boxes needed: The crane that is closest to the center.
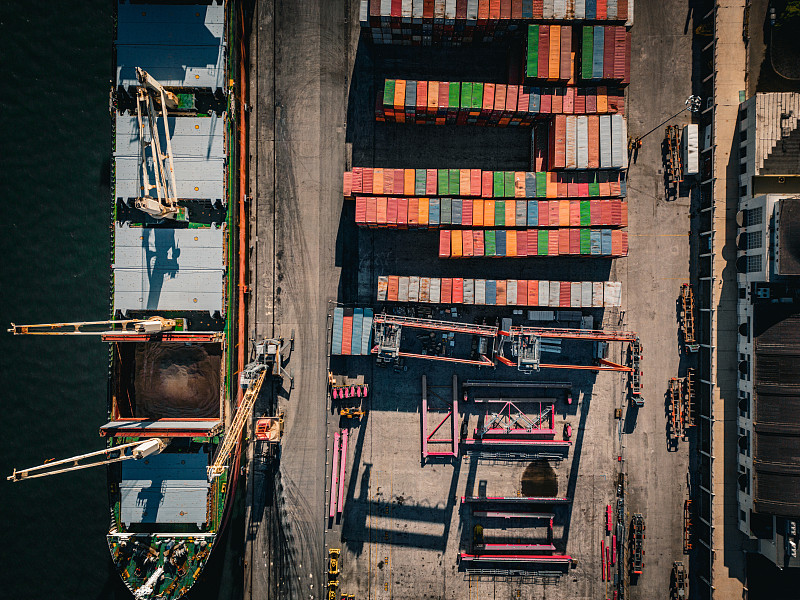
[370,309,501,367]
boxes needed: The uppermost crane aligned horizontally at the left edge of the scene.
[6,314,198,338]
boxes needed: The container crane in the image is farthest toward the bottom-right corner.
[493,319,637,377]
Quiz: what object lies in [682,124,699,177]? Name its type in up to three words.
trailer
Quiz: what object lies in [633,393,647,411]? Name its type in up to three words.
vehicle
